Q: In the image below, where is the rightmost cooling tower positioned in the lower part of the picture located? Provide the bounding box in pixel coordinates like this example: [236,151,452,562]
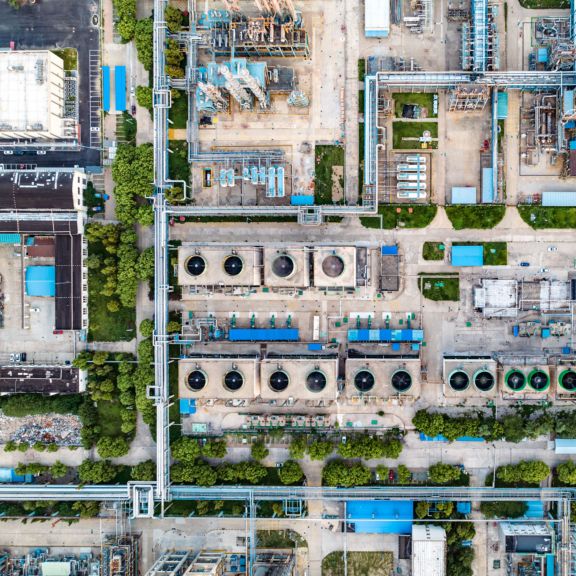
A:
[550,361,576,394]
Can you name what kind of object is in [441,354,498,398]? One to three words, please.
cooling tower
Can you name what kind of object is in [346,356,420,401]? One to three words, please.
cooling tower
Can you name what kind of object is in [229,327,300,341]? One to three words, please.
building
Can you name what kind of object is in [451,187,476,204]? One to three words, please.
shed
